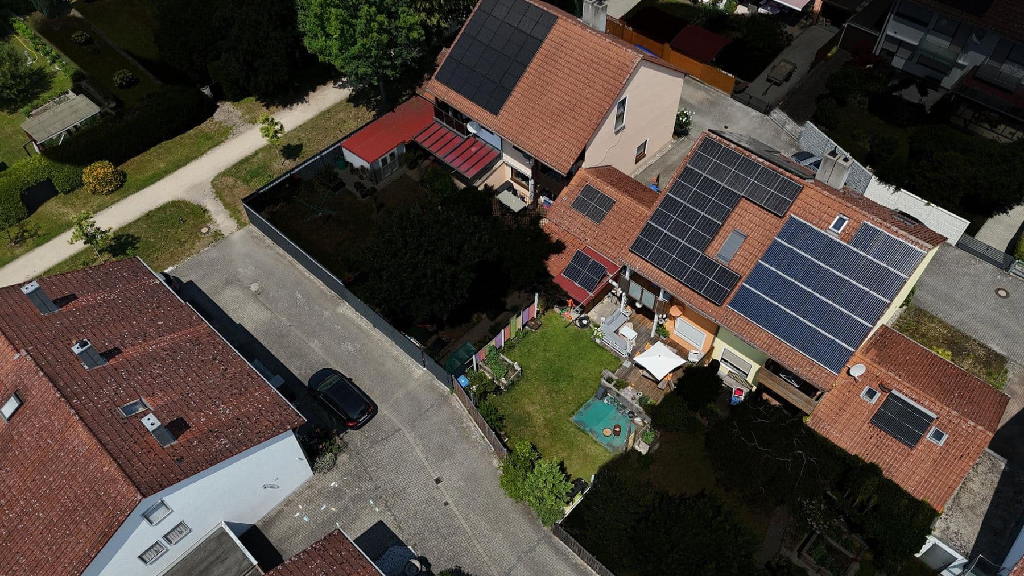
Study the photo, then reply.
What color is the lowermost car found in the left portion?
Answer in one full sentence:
The color of the lowermost car found in the left portion is black.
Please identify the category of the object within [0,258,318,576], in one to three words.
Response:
house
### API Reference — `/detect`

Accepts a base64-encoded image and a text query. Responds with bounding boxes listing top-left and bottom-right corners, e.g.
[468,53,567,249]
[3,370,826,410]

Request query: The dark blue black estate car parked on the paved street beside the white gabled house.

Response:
[300,361,372,430]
